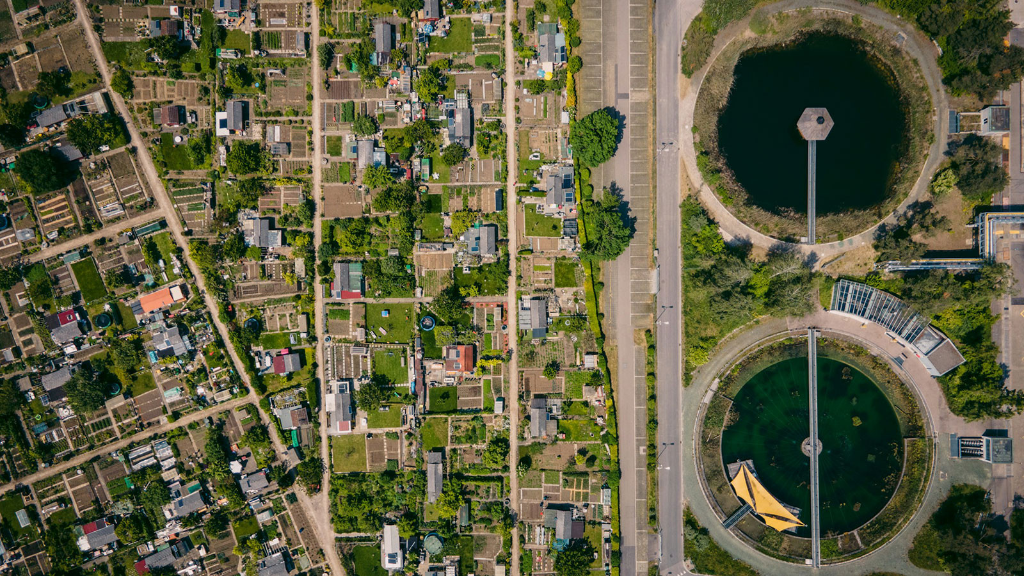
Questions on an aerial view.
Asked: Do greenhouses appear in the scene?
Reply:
Yes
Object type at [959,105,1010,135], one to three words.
building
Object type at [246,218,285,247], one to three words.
shed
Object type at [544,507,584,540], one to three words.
shed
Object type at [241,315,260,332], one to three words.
trampoline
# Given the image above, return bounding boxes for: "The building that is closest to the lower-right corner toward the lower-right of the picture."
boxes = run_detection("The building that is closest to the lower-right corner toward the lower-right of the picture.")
[960,434,1013,463]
